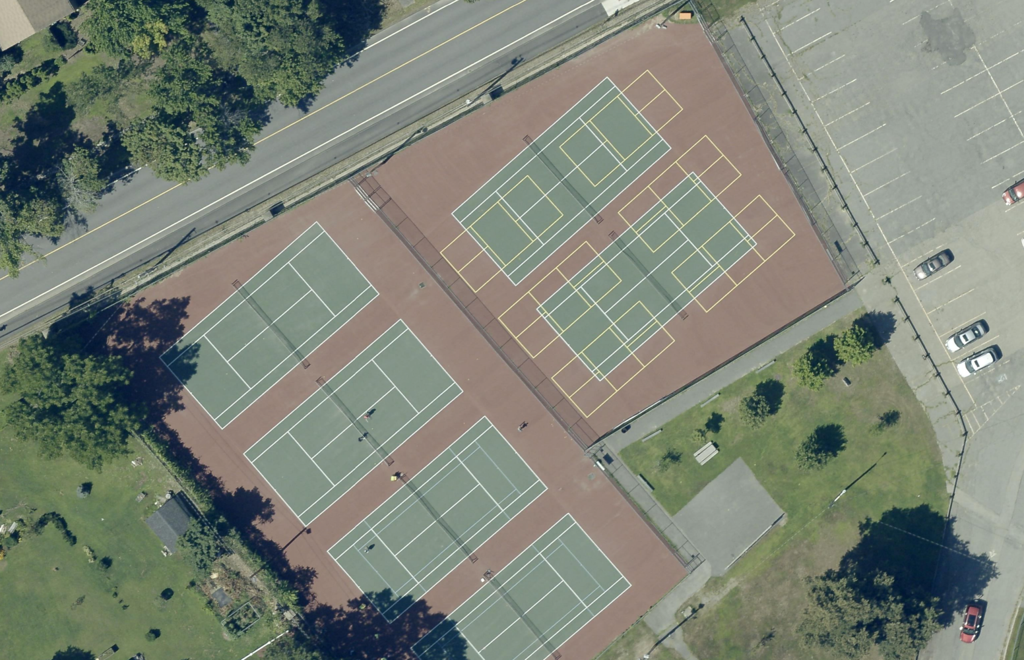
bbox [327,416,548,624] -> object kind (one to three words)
tennis court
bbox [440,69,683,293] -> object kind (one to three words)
tennis court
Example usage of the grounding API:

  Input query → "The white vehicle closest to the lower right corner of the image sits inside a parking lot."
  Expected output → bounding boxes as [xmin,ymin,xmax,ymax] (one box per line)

[958,346,999,376]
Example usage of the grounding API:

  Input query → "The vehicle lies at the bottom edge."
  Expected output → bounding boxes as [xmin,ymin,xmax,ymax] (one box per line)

[960,603,981,644]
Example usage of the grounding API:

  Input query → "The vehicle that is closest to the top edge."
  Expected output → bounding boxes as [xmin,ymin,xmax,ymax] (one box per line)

[1001,178,1024,202]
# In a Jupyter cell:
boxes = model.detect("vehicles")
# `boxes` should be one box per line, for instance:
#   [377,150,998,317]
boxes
[1001,178,1024,202]
[960,603,981,644]
[947,320,987,350]
[913,249,954,280]
[958,346,999,376]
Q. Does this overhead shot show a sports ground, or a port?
sports ground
